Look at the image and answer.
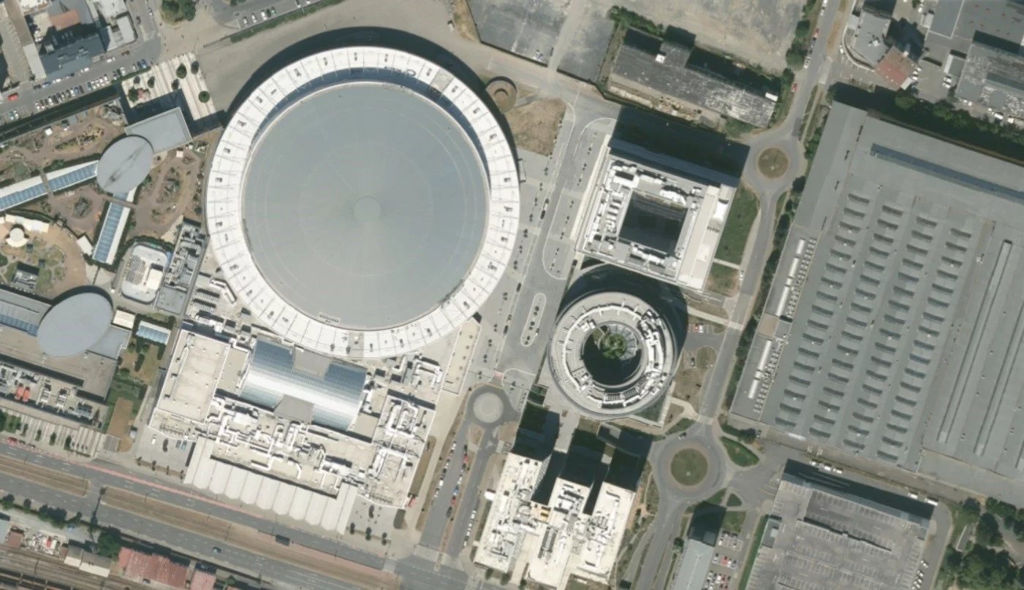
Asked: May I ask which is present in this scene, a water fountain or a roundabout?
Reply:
roundabout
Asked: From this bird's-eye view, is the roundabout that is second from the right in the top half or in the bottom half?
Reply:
bottom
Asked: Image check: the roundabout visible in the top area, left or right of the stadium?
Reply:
right of it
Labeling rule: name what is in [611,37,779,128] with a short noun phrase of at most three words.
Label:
shed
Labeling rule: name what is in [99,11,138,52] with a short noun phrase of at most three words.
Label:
house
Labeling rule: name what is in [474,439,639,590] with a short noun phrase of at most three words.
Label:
building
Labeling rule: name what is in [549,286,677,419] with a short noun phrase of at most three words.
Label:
building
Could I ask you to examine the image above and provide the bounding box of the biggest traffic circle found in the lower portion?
[652,430,725,497]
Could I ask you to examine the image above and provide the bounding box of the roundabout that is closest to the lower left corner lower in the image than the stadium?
[464,382,512,425]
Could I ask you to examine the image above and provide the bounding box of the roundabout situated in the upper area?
[746,135,800,189]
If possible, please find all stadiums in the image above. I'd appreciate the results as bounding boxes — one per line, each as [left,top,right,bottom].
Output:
[207,46,526,359]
